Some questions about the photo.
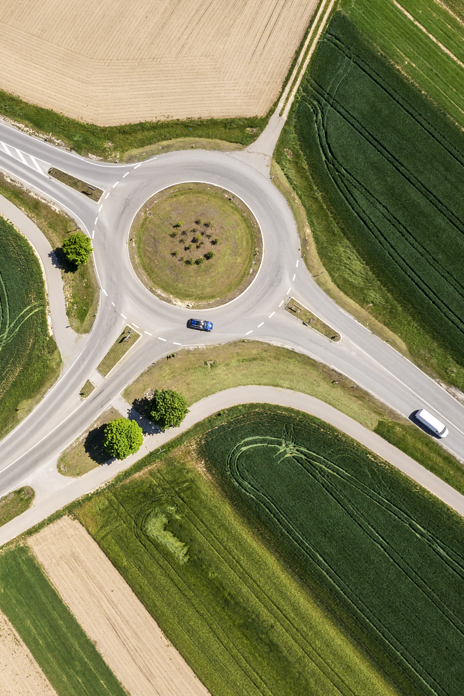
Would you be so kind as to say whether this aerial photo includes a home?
No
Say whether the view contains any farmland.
Yes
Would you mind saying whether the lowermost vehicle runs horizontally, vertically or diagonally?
diagonally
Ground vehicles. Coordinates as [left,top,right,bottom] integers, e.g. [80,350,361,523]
[189,319,213,331]
[414,409,450,436]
